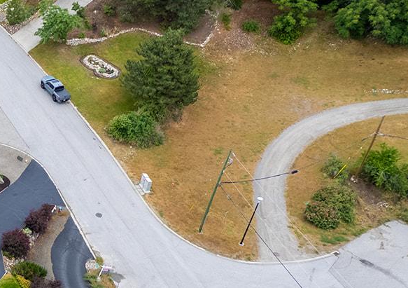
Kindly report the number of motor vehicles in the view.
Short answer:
one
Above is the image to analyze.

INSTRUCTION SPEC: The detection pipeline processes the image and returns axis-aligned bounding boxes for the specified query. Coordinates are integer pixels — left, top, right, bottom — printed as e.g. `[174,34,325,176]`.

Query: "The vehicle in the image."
[38,71,72,100]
